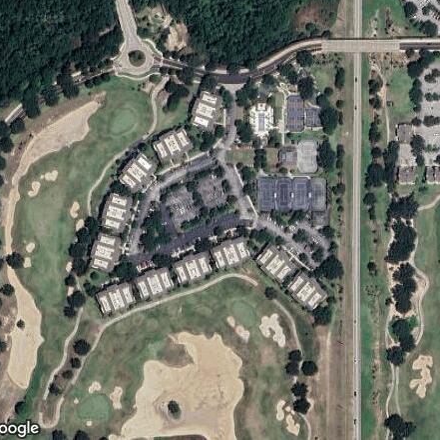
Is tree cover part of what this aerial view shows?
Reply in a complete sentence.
Yes, the picture does contain tree cover.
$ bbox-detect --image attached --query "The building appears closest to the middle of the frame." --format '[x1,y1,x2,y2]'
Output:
[212,241,250,268]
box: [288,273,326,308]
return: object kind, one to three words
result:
building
